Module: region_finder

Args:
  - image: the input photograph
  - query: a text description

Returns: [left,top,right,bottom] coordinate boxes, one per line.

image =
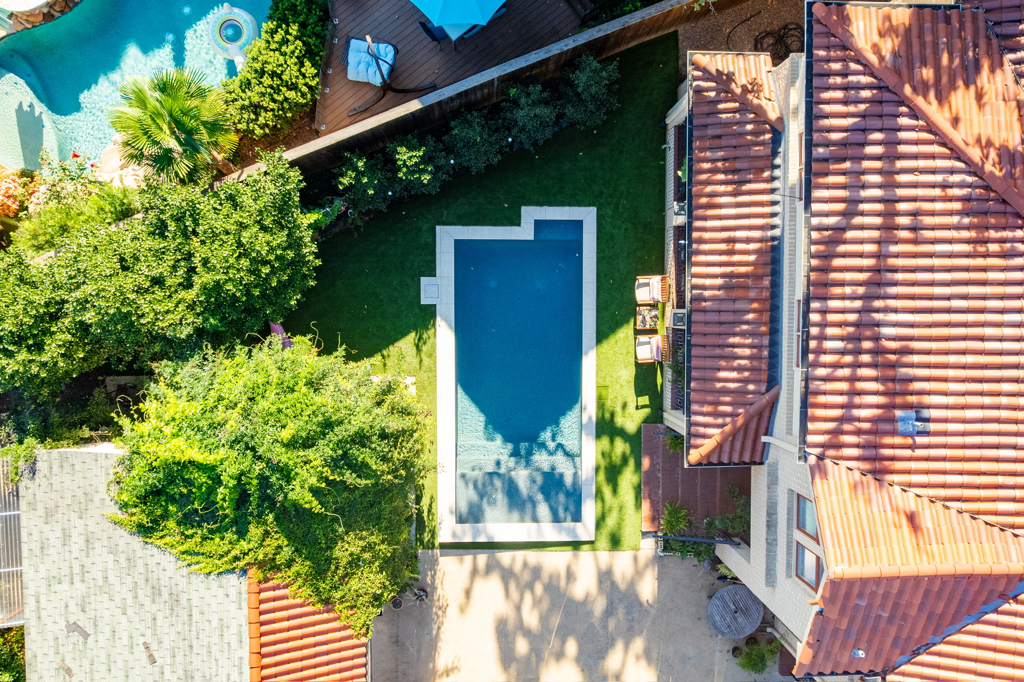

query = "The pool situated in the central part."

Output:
[421,207,595,542]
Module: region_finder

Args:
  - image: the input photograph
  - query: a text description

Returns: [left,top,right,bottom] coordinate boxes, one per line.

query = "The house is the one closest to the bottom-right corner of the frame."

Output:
[663,0,1024,682]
